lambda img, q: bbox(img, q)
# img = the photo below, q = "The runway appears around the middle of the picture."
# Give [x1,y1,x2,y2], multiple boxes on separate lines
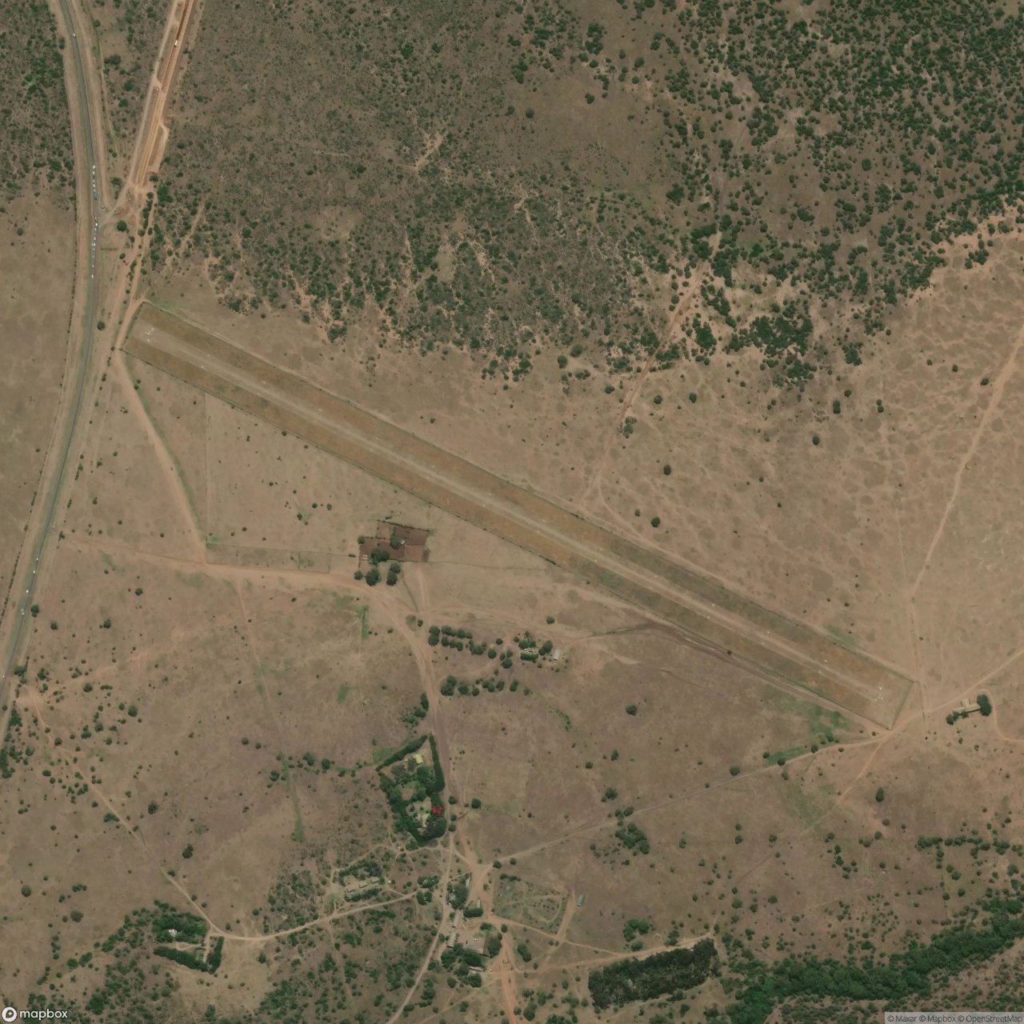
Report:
[121,302,913,730]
